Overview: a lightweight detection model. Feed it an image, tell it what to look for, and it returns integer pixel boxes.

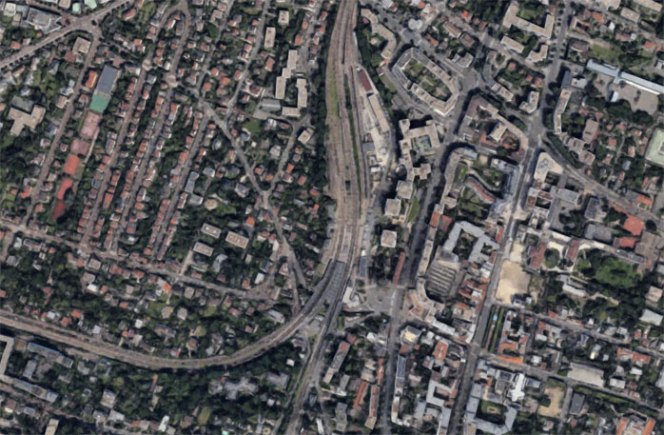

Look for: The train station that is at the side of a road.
[303,222,364,321]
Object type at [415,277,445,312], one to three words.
building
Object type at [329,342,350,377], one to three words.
building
